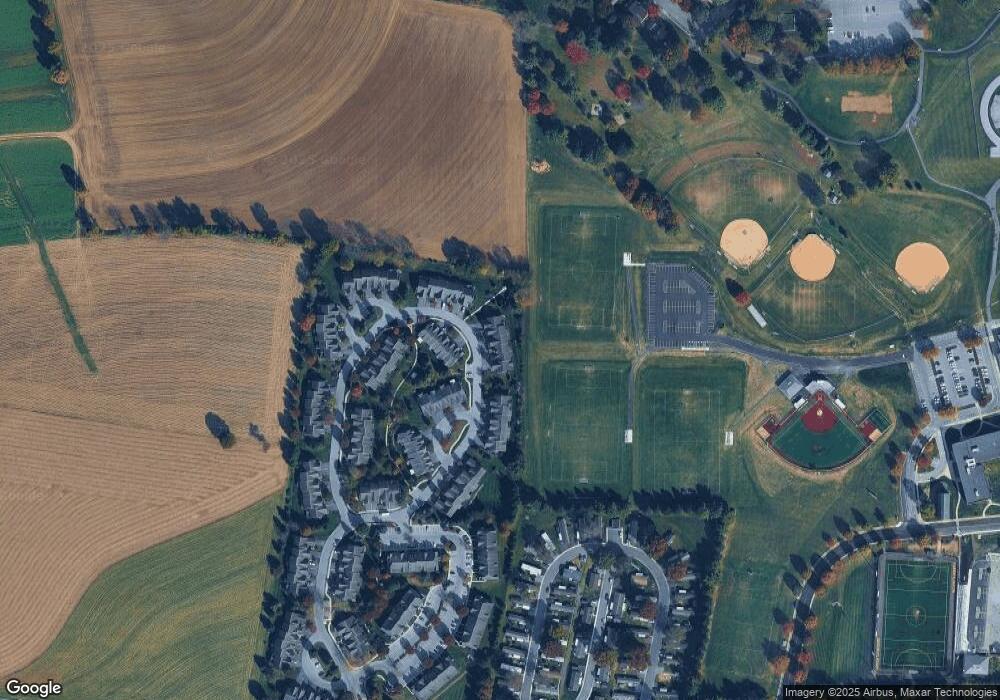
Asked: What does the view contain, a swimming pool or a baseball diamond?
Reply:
baseball diamond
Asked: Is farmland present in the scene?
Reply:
Yes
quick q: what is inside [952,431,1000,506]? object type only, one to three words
building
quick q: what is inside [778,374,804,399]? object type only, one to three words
building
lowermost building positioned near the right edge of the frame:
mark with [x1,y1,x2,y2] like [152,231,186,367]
[965,655,991,676]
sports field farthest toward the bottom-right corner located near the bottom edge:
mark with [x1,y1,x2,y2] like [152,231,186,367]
[872,552,958,676]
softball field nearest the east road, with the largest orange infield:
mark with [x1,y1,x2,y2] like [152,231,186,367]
[895,238,974,295]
